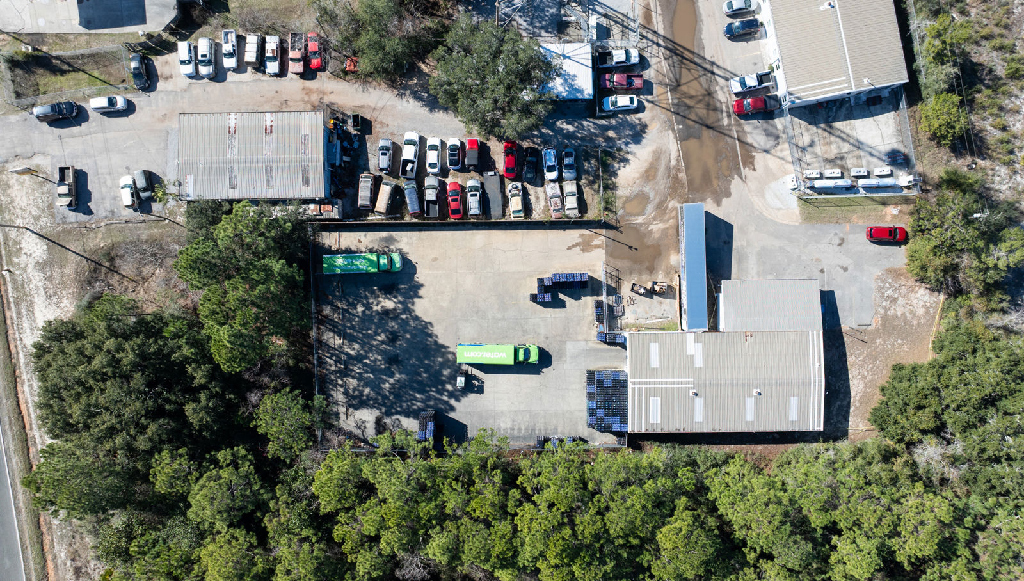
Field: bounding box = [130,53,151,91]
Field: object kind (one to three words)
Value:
car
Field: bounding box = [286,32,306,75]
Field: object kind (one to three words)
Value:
vehicle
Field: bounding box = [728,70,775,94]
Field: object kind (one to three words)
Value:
truck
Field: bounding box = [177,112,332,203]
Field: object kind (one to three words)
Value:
building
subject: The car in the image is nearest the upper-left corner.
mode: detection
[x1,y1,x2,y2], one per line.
[32,102,81,123]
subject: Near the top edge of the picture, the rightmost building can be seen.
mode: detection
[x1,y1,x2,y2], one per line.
[757,0,909,112]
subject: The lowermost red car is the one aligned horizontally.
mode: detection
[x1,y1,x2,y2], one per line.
[865,225,907,243]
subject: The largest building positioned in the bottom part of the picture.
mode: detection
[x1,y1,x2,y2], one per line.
[622,330,826,432]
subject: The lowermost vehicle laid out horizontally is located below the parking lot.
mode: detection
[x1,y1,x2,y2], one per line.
[453,342,540,366]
